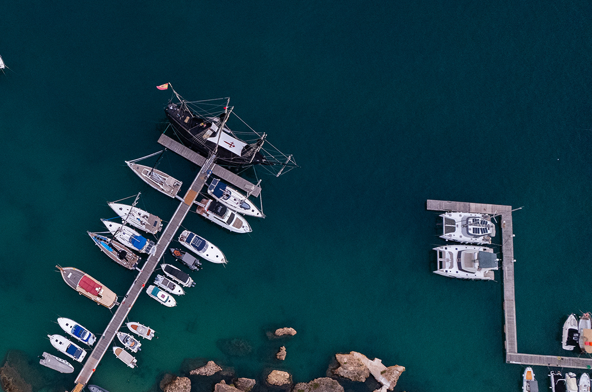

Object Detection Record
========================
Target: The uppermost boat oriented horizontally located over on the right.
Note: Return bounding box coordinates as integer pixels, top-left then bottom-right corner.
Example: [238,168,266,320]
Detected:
[439,209,524,245]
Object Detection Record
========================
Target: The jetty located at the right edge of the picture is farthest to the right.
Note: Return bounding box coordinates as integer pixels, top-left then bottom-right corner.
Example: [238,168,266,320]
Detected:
[425,200,592,369]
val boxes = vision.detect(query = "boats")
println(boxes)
[92,213,158,256]
[205,180,271,223]
[162,265,197,290]
[434,246,508,280]
[149,271,188,295]
[117,148,182,198]
[439,209,524,245]
[126,323,157,340]
[48,335,87,364]
[77,226,141,270]
[117,333,143,352]
[145,285,178,307]
[55,266,122,311]
[114,348,138,368]
[564,370,578,392]
[576,373,590,392]
[88,386,106,392]
[548,372,564,392]
[104,193,167,234]
[169,248,202,272]
[178,232,232,268]
[561,314,577,350]
[576,314,592,353]
[40,353,74,372]
[53,316,98,348]
[521,367,538,392]
[197,200,254,234]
